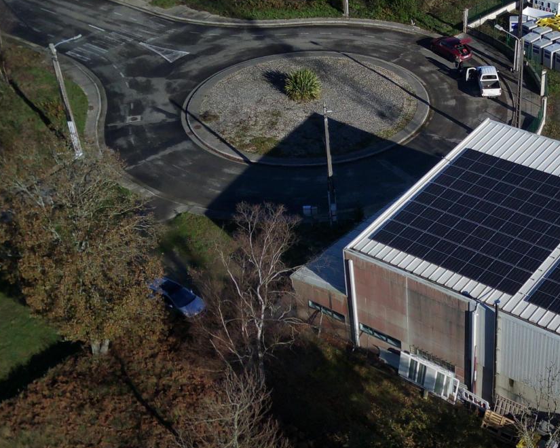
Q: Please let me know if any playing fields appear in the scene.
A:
No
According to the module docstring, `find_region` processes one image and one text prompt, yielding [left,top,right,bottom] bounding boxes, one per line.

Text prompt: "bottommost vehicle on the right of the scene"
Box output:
[472,61,502,93]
